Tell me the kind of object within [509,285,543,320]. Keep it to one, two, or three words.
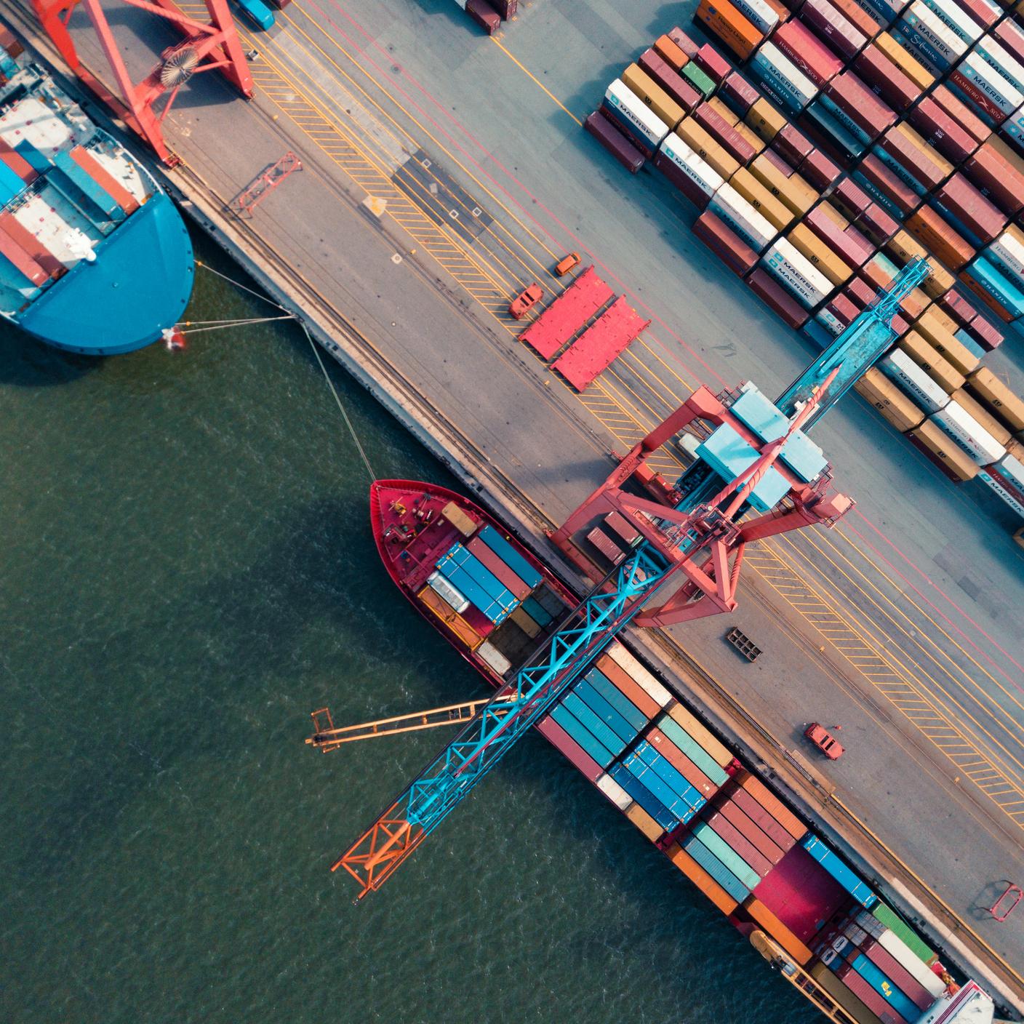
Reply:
van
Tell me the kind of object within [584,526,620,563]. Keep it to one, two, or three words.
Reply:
shipping container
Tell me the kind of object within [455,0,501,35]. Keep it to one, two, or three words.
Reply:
shipping container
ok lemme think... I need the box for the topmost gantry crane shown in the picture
[33,0,265,178]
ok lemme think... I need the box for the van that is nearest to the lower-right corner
[802,723,840,759]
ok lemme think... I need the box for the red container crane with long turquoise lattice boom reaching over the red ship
[323,242,945,911]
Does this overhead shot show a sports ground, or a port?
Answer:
port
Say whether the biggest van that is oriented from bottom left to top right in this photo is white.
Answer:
No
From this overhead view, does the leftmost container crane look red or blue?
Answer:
red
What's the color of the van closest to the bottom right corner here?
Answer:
red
